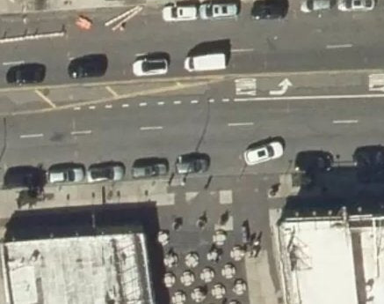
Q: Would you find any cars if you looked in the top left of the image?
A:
Yes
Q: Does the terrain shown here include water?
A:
No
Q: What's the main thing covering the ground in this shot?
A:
paved ground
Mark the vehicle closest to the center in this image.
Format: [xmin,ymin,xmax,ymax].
[175,157,210,174]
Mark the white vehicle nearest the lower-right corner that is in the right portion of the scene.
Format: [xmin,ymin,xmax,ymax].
[243,142,283,164]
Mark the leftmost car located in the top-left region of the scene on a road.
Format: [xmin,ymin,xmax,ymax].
[6,66,46,84]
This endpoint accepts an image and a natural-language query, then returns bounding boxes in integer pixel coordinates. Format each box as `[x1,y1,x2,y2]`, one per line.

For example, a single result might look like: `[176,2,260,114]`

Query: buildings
[1,230,154,304]
[281,221,384,304]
